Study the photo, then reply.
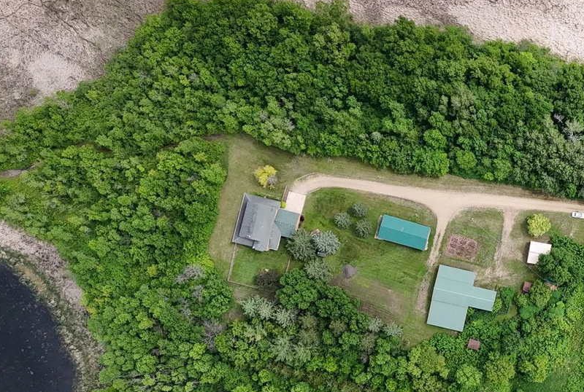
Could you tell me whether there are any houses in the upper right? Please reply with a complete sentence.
No, no house is visible in the upper right.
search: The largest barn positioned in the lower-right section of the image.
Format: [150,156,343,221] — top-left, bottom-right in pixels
[428,264,498,332]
